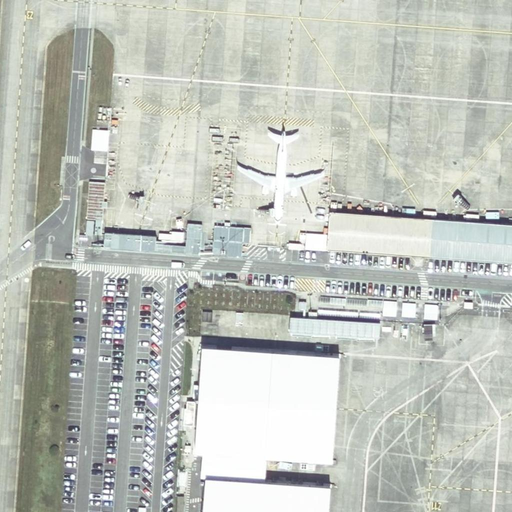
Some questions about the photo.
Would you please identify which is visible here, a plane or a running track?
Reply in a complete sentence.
Visible in the photo is a plane.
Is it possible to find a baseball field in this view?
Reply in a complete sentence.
No, the photo shows no baseball field.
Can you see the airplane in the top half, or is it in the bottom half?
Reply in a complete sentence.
The airplane sits in the top half of the picture.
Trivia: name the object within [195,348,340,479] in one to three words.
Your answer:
hangar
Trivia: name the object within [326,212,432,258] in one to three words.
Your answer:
shed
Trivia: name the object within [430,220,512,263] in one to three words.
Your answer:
shed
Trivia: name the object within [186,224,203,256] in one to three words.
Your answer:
building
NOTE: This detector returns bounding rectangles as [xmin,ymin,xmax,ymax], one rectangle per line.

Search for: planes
[238,130,324,222]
